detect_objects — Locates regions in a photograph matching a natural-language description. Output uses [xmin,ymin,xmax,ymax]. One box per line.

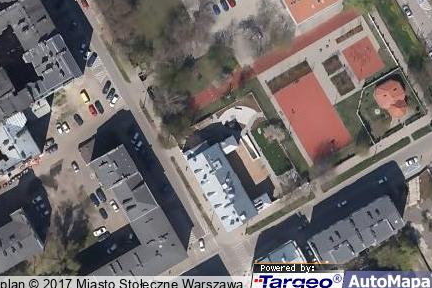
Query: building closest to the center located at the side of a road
[186,135,271,234]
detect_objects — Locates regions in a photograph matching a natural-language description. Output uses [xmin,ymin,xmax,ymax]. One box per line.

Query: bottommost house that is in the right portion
[251,238,306,286]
